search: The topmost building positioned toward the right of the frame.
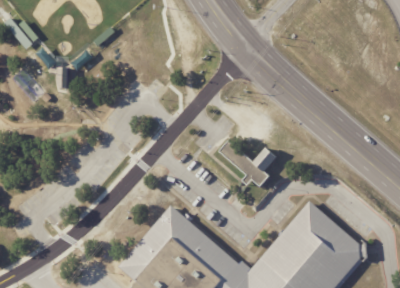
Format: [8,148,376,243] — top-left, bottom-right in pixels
[219,141,276,186]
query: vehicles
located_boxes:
[192,197,201,206]
[176,180,187,190]
[220,190,228,198]
[200,171,209,181]
[208,210,216,220]
[195,168,204,178]
[188,162,196,170]
[204,175,214,184]
[217,218,226,226]
[180,154,190,163]
[364,135,373,143]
